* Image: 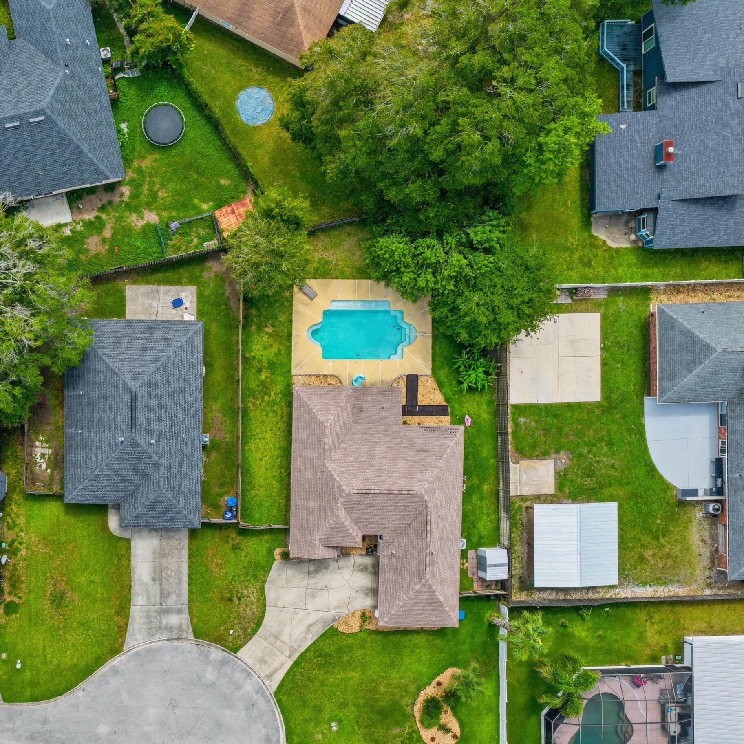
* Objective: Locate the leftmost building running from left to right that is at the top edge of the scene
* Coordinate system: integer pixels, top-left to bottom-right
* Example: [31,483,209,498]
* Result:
[165,0,342,76]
